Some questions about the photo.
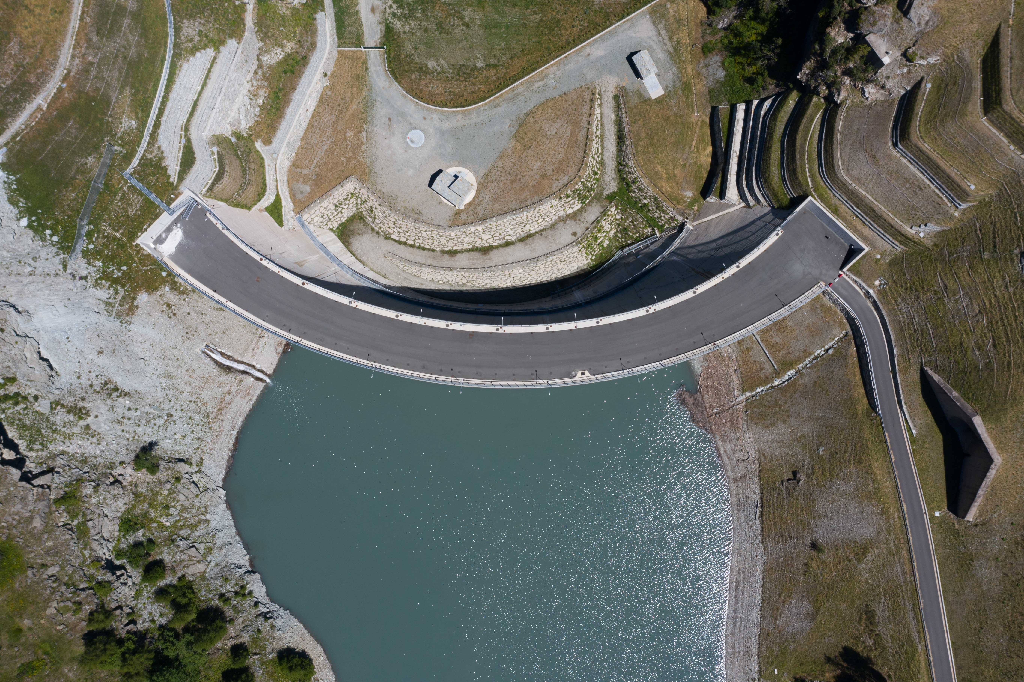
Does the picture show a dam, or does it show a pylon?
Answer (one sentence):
This aerial view contains a dam.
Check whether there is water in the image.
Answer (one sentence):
Yes, water can be seen from above here.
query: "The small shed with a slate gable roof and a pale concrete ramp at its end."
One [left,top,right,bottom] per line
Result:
[630,50,664,100]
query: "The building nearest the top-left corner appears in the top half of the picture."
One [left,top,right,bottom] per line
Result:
[432,167,477,210]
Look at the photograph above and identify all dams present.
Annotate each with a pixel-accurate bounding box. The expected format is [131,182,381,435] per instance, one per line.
[136,189,867,387]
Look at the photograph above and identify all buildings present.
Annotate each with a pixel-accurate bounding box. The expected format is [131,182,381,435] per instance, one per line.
[432,167,477,210]
[630,50,664,100]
